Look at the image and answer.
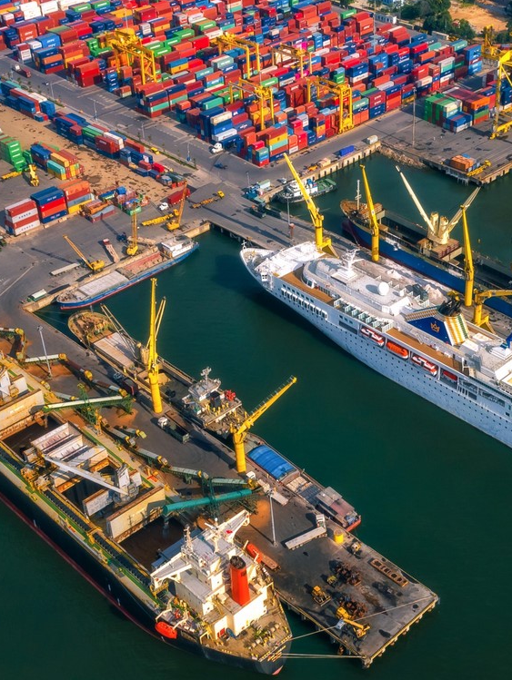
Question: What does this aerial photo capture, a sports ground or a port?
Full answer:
This image shows a port.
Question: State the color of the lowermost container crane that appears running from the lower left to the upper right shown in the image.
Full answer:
In this view, the lowermost container crane that appears running from the lower left to the upper right is yellow.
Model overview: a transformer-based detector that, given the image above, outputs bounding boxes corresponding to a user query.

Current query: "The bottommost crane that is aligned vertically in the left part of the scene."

[142,278,163,415]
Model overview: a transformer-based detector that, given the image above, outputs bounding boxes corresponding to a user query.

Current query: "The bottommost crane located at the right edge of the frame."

[473,270,512,327]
